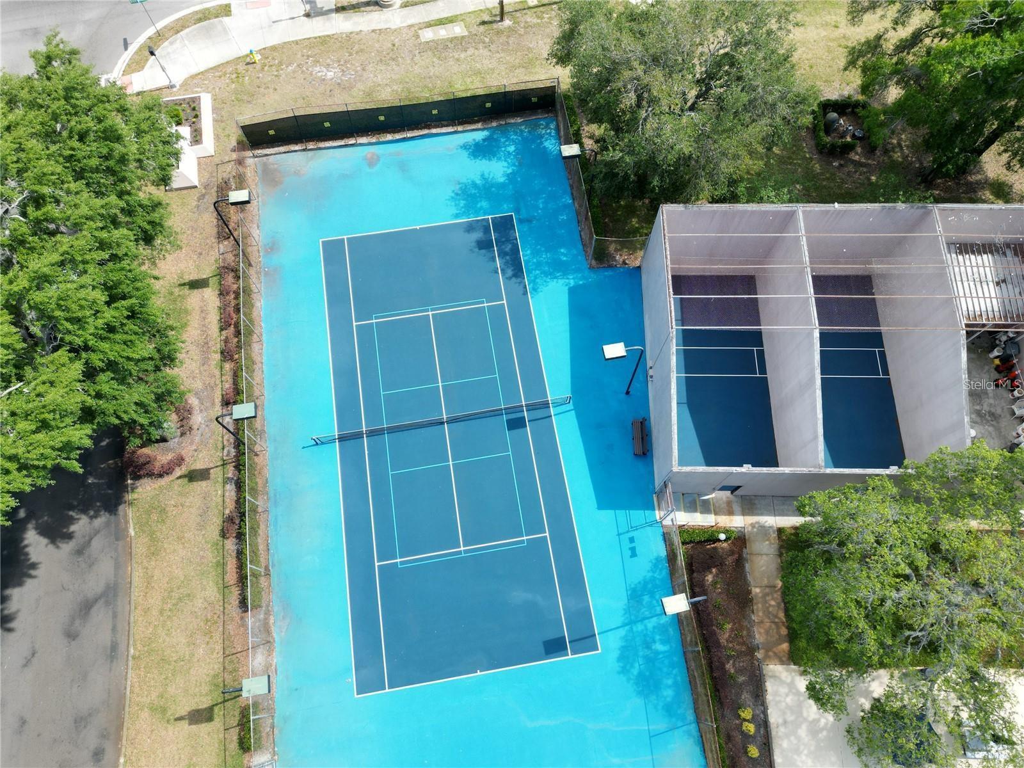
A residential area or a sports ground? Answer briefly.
sports ground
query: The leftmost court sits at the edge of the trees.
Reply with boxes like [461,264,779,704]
[256,118,707,768]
